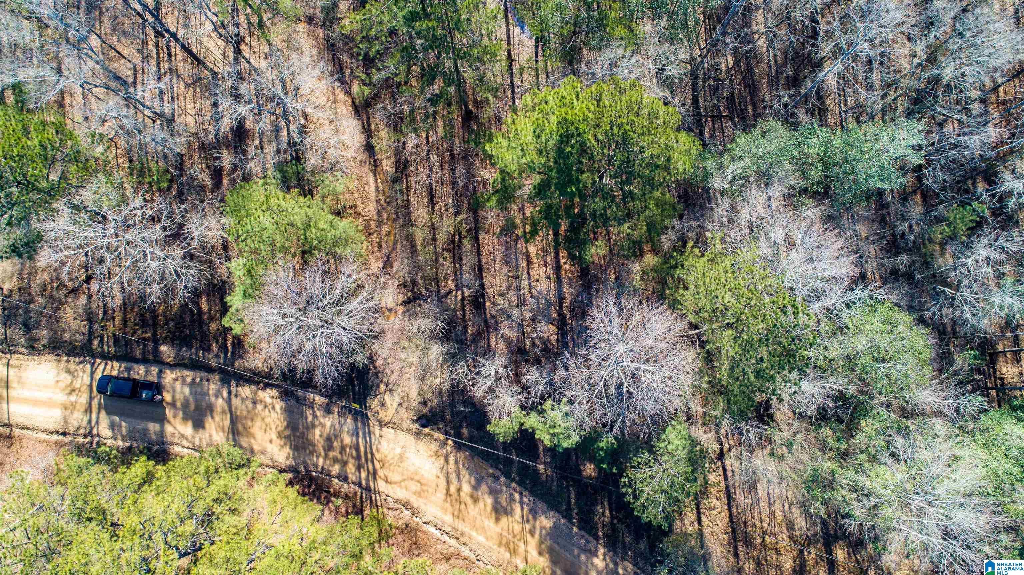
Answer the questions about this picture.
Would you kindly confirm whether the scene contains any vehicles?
Yes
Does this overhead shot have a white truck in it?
No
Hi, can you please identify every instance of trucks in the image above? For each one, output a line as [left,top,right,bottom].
[93,375,163,404]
